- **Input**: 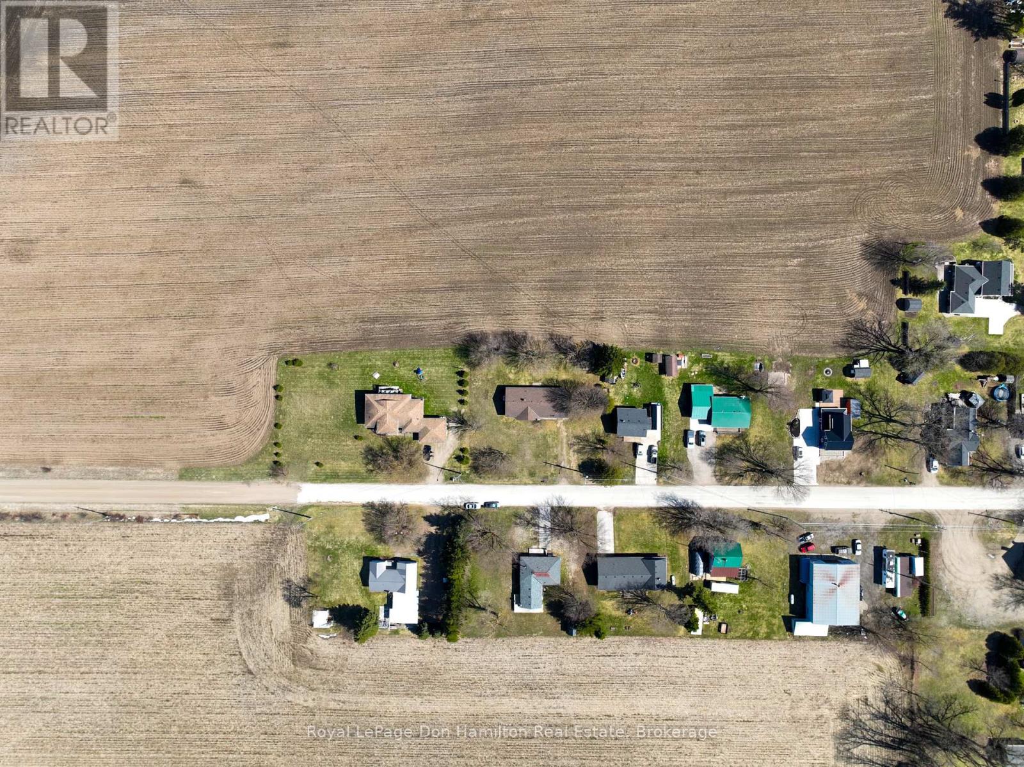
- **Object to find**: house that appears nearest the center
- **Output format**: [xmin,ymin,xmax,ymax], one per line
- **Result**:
[505,386,569,420]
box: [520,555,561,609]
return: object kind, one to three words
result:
house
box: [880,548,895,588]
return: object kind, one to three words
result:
camper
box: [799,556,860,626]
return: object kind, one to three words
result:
barn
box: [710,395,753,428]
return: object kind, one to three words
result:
building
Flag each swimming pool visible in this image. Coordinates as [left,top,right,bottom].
[992,383,1012,401]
